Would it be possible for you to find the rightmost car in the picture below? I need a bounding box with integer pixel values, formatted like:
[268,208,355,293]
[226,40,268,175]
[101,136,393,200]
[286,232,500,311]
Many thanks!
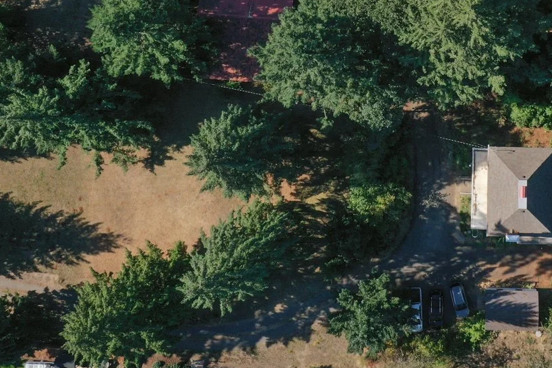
[448,280,472,318]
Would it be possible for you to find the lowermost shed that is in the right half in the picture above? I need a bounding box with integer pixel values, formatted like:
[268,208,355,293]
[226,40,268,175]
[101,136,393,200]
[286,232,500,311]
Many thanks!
[484,282,538,331]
